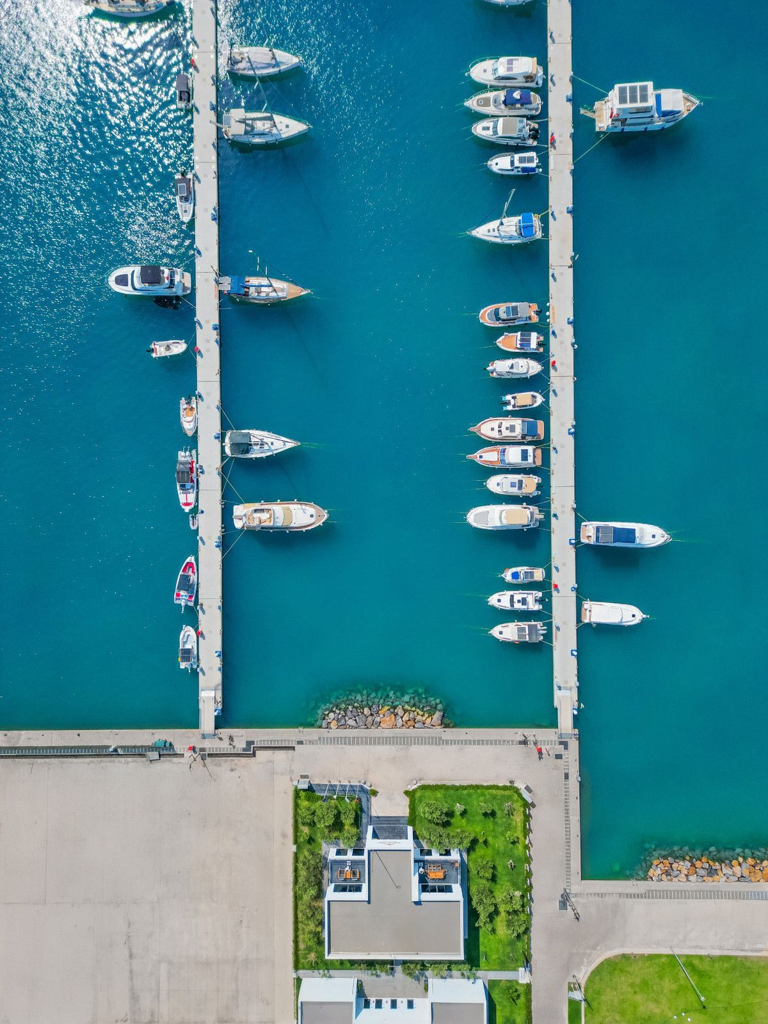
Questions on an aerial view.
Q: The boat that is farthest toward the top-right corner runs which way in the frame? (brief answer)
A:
horizontally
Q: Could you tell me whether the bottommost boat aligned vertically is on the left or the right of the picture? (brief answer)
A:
left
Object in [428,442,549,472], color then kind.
white boat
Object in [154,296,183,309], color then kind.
black boat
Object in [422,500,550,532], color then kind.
white boat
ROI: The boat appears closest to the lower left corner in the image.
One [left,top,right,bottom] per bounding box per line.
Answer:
[178,625,198,675]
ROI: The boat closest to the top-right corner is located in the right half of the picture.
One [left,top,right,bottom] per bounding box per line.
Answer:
[571,79,724,157]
